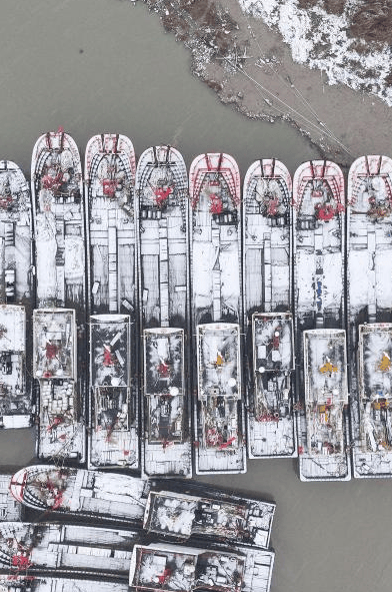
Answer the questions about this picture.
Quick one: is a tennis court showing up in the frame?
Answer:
No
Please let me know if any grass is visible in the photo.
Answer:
No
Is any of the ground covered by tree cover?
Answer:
No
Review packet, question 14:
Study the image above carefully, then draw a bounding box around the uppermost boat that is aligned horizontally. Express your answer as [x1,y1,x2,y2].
[7,465,276,547]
